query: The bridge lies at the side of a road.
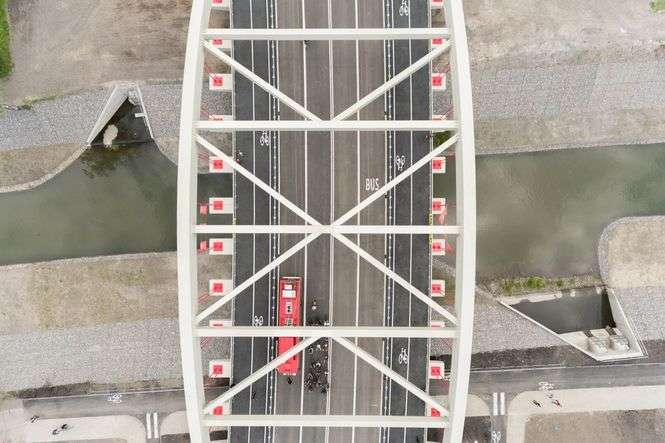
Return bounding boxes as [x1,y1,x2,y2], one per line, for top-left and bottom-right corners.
[175,0,477,443]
